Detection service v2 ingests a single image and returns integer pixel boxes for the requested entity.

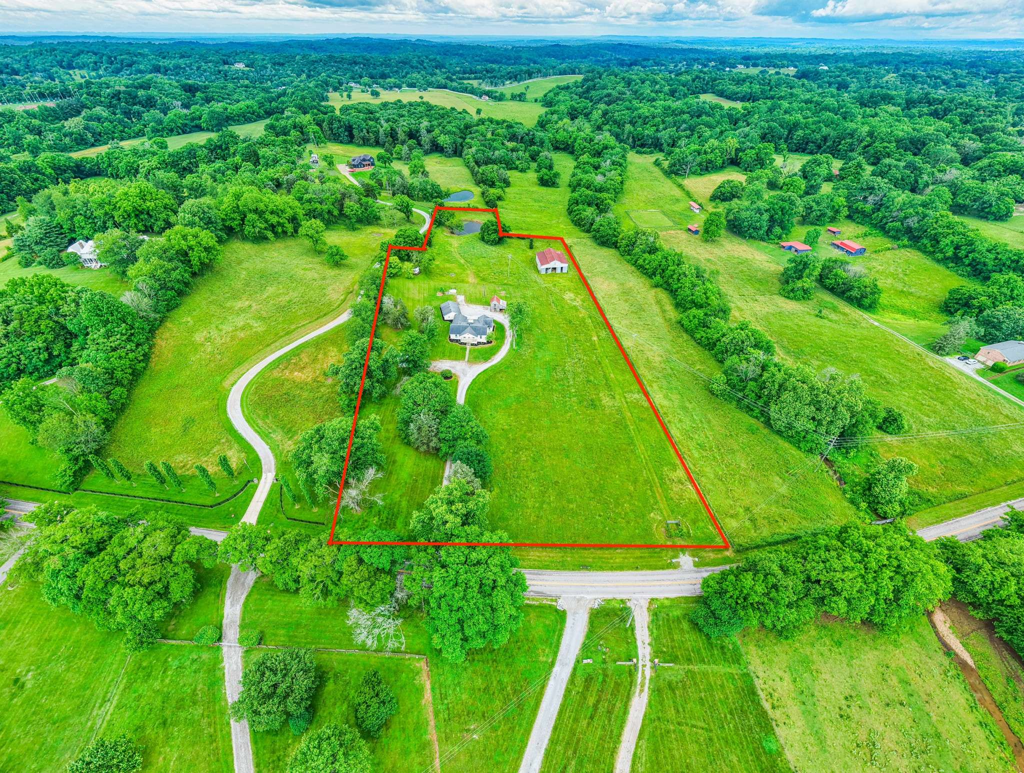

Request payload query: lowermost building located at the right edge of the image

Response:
[975,337,1019,363]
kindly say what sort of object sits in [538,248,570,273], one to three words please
barn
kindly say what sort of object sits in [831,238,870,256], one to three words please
barn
